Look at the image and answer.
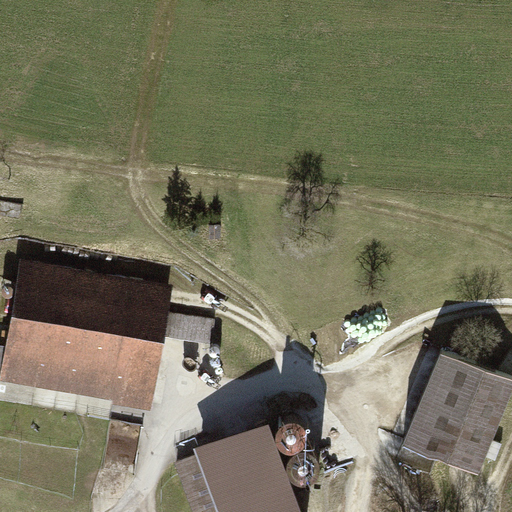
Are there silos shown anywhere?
Yes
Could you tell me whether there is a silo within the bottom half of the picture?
Yes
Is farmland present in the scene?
Yes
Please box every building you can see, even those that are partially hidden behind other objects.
[0,200,21,218]
[0,259,172,410]
[167,312,215,344]
[175,426,300,512]
[402,354,512,474]
[209,224,220,240]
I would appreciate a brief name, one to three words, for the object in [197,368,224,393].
work vehicle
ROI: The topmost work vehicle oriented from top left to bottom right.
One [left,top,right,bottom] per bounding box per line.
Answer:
[200,290,230,313]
